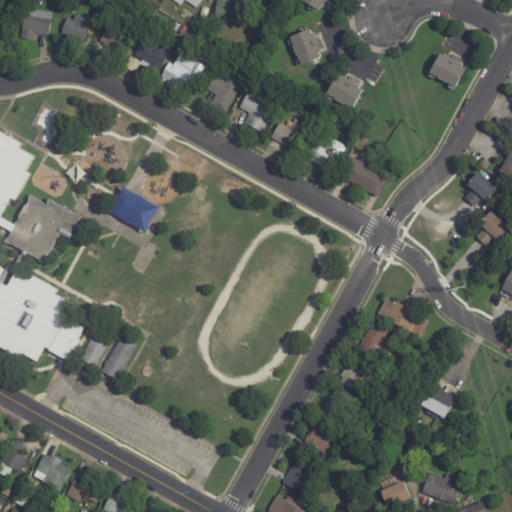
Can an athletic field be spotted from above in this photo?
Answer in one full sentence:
Yes, the picture does show an athletic field.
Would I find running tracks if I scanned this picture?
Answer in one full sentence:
Yes, this view includes a running track.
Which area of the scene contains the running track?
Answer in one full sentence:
The running track is in the center part of the image.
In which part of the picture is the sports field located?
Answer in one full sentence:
The sports field is located in the center region of the scene.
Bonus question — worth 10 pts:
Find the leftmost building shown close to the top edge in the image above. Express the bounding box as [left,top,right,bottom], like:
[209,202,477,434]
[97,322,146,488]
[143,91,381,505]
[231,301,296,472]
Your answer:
[22,11,53,40]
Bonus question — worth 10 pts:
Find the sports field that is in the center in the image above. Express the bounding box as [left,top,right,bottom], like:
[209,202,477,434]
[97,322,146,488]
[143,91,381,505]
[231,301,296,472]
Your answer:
[208,230,318,377]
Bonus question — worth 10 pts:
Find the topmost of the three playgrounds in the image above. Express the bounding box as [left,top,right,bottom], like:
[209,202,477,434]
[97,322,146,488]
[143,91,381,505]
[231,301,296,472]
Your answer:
[86,134,128,171]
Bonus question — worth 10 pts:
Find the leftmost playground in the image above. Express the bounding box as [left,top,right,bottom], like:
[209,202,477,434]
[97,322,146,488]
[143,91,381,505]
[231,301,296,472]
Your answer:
[33,167,67,198]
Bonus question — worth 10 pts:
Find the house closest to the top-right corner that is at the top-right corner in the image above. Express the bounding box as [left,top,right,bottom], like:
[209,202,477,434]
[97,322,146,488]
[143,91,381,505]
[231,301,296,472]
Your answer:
[428,52,466,90]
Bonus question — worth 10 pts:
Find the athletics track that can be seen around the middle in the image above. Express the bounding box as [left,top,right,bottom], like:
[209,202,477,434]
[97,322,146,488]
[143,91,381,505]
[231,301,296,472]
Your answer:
[200,224,324,386]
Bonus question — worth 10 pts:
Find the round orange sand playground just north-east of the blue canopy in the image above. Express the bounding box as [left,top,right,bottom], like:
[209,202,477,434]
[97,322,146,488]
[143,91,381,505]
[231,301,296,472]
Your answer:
[143,174,176,204]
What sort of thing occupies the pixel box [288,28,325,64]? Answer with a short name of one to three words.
house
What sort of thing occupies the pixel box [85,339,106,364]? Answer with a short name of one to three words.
shed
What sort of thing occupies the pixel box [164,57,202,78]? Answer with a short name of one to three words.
house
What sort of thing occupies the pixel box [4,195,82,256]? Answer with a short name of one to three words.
building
